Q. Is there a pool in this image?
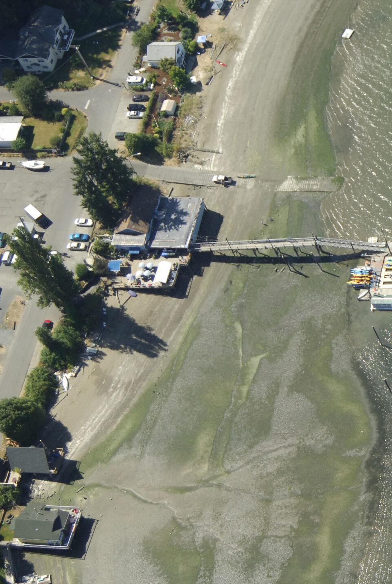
No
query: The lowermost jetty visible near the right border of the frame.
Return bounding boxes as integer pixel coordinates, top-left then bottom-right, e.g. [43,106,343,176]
[358,252,392,312]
